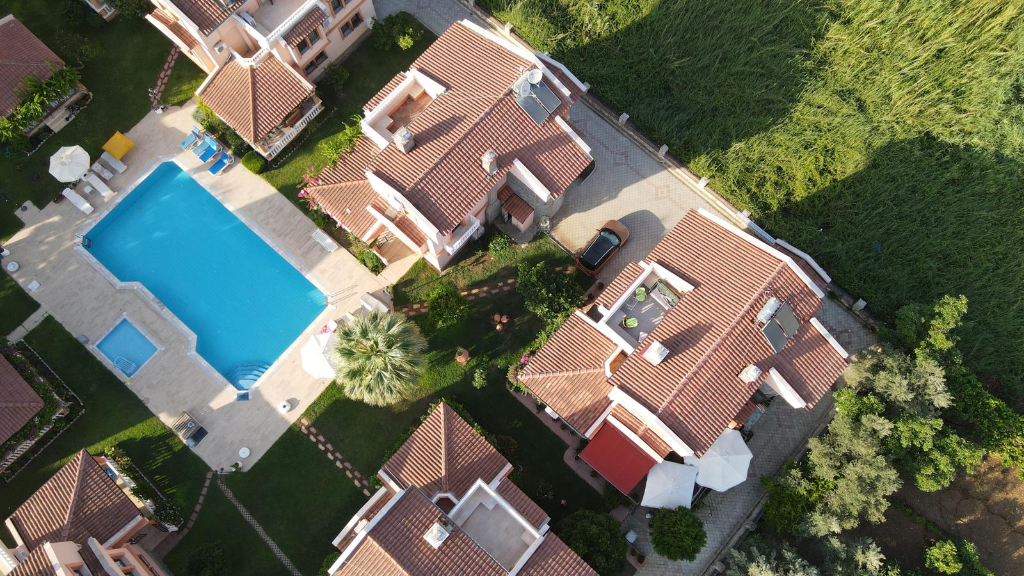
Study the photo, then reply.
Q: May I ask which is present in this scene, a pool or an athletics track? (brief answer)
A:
pool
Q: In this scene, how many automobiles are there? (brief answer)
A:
1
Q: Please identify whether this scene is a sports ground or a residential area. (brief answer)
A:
residential area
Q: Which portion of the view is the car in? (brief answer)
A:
center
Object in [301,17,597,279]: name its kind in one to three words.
house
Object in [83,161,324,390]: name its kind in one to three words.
swimming pool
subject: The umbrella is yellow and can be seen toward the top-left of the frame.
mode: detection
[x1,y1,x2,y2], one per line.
[103,132,143,165]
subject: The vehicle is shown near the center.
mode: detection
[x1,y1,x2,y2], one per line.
[571,217,636,275]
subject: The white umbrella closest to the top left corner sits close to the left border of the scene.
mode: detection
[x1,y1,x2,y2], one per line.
[51,147,94,186]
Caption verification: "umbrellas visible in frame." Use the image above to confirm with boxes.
[681,424,758,498]
[642,467,694,510]
[51,147,94,186]
[103,132,143,165]
[301,332,348,378]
